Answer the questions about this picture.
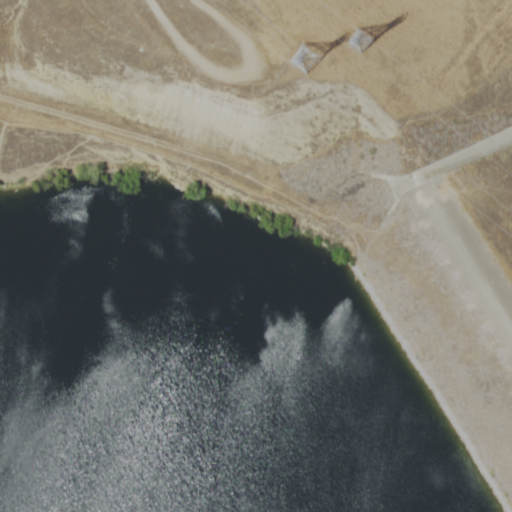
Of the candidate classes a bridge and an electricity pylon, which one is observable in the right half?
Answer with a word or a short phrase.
electricity pylon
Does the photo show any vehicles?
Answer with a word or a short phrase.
No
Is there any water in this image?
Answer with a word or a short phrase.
Yes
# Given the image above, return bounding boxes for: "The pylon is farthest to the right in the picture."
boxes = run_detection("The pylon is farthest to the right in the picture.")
[347,28,374,54]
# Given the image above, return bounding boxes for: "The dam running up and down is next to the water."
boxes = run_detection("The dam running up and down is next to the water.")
[350,160,512,512]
